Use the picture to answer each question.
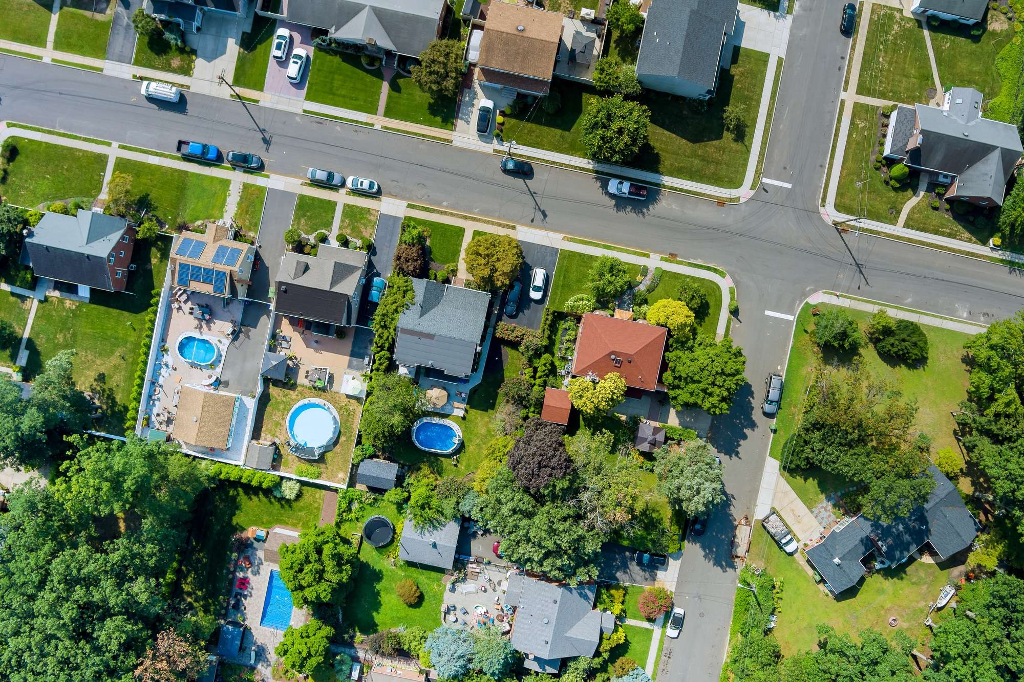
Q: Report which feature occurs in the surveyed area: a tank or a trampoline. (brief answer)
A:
trampoline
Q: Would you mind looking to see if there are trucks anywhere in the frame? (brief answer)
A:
Yes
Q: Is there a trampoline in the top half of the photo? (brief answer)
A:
No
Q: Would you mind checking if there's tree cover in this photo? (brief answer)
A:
Yes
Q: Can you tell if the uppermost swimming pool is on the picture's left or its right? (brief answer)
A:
left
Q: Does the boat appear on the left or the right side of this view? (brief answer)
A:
right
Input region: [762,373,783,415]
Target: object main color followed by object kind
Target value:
gray truck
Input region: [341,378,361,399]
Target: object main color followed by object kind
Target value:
white umbrella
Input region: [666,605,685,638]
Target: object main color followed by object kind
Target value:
white car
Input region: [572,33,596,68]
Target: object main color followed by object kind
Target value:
gray gazebo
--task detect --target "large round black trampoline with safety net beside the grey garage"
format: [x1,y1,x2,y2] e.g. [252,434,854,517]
[360,514,395,550]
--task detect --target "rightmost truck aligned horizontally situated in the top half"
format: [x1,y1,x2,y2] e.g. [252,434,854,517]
[608,180,648,201]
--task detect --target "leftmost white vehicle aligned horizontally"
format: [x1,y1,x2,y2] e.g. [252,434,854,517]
[141,79,182,103]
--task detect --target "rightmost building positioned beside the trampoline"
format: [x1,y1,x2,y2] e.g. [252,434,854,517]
[398,512,463,570]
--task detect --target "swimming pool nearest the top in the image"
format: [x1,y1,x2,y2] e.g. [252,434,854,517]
[178,334,218,366]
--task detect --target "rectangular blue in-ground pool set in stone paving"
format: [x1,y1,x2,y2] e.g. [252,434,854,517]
[258,567,293,633]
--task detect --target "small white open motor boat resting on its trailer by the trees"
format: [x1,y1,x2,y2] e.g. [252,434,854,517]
[936,582,959,609]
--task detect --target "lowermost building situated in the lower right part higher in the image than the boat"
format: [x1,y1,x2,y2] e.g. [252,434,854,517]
[801,457,982,594]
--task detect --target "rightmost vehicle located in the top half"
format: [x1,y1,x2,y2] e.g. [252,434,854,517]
[839,3,859,35]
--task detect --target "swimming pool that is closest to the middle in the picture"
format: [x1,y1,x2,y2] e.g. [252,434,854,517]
[412,417,462,454]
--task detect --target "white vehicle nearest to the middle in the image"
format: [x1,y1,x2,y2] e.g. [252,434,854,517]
[529,266,547,301]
